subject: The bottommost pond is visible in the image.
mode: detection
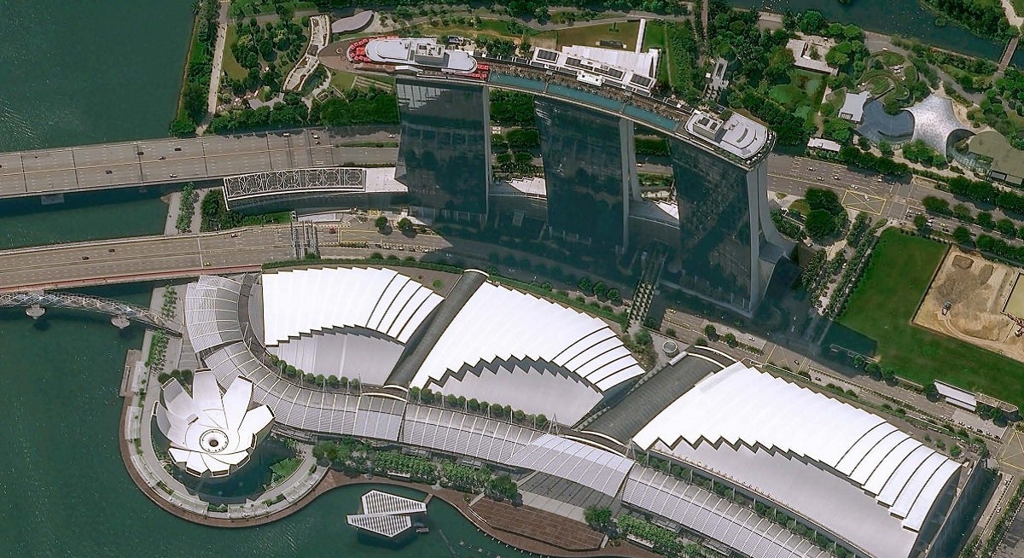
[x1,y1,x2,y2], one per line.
[152,402,307,504]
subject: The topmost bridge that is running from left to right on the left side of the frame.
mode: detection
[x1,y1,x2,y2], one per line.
[0,124,393,198]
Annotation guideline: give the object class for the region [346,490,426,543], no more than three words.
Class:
building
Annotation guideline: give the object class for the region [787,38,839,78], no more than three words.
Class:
house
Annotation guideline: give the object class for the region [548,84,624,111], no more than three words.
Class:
swimming pool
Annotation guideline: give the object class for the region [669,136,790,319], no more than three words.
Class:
building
